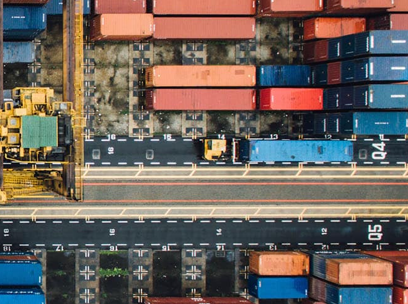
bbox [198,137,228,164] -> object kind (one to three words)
work vehicle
